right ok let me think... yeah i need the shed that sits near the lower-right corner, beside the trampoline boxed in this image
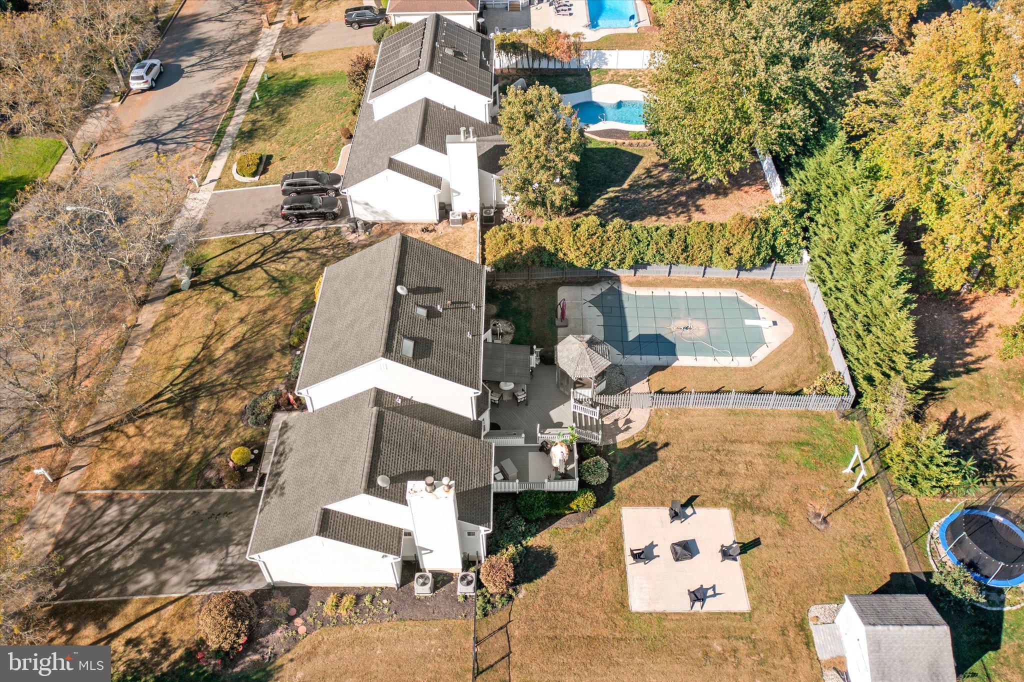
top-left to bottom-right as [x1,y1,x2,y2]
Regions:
[836,595,957,682]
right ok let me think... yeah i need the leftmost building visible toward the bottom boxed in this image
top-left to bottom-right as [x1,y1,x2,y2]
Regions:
[245,234,496,591]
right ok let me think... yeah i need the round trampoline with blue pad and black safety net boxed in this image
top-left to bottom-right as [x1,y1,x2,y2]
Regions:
[937,497,1024,592]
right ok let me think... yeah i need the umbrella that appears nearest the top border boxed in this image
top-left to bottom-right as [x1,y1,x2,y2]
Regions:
[556,298,568,325]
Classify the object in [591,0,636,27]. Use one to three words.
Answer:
swimming pool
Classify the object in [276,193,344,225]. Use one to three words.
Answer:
car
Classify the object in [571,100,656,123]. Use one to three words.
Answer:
swimming pool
